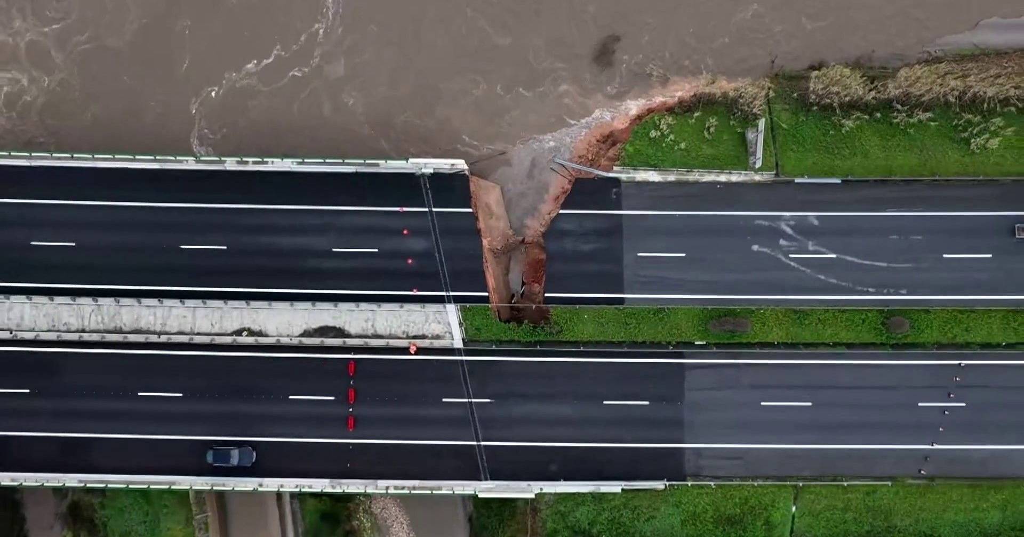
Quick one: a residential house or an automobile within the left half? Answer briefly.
automobile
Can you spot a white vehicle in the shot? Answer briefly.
No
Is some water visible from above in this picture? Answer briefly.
Yes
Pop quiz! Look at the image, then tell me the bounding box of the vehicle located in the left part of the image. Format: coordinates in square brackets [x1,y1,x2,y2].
[206,444,257,469]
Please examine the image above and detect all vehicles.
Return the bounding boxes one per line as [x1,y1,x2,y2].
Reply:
[1008,223,1024,240]
[206,444,257,469]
